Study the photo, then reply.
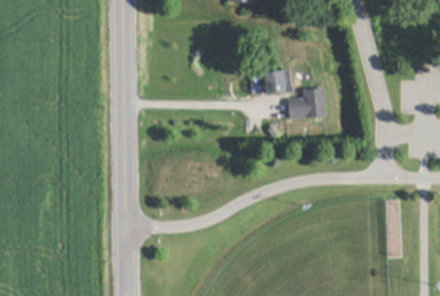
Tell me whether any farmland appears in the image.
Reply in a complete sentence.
Yes, there is farmland in the image.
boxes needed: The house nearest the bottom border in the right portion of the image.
[288,86,326,120]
